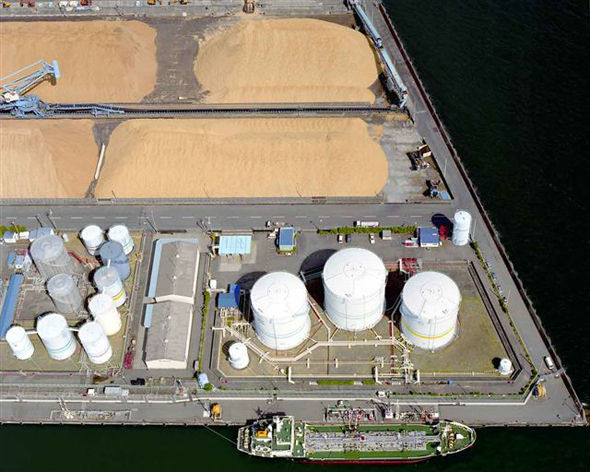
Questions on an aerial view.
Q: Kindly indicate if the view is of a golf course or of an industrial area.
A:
industrial area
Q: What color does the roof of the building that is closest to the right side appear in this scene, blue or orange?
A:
blue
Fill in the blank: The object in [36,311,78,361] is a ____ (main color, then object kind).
white storage tank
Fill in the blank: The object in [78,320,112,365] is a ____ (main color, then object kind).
white storage tank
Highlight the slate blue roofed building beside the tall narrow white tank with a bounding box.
[419,227,442,248]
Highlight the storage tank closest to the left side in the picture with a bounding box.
[5,324,36,361]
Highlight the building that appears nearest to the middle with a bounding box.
[279,228,294,254]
